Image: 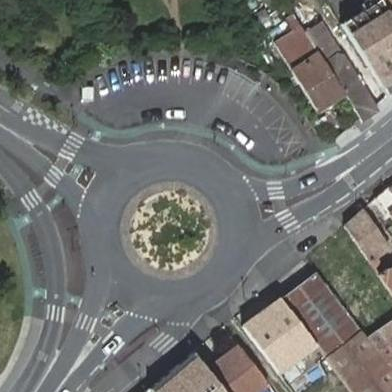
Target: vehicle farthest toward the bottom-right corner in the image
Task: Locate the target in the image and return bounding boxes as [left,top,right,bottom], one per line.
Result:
[297,235,316,250]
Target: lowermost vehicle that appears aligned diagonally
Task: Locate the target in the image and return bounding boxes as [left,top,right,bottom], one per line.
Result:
[102,335,123,355]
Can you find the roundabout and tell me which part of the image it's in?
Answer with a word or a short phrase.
center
